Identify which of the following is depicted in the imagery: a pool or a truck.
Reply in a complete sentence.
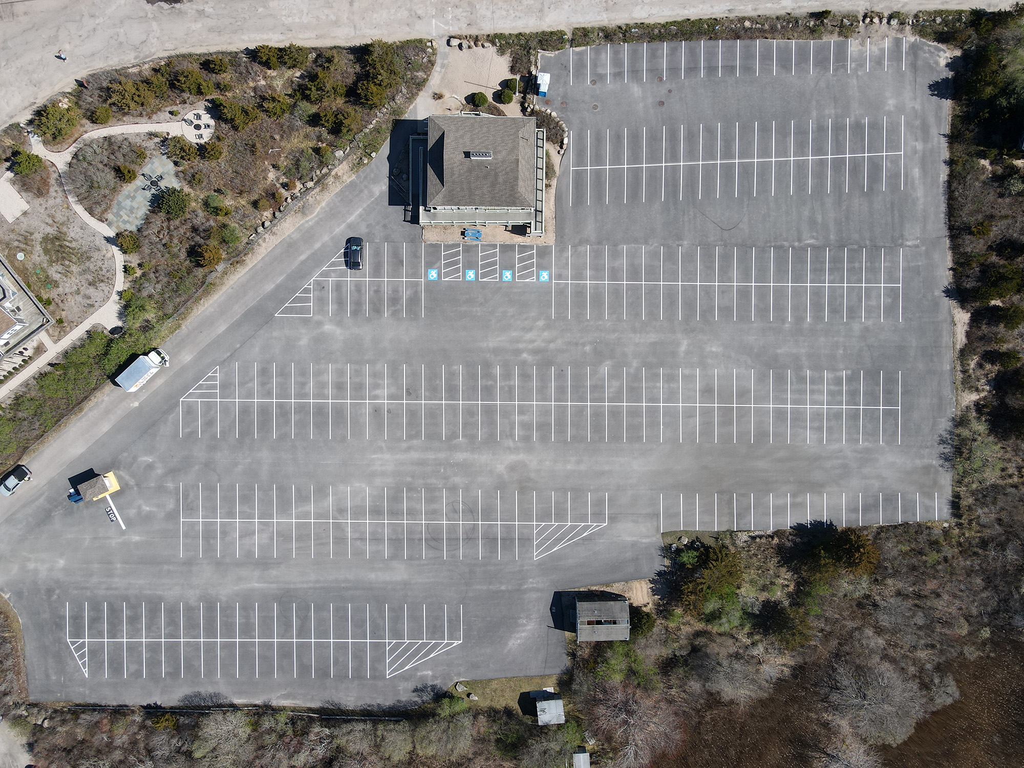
Visible in the photo is a truck.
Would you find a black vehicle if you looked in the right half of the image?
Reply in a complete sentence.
No, I can find no black vehicle in the right half of the image.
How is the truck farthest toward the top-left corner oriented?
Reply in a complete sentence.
The truck farthest toward the top-left corner is oriented at an angle.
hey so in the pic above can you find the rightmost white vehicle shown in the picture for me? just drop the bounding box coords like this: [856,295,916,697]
[115,348,172,392]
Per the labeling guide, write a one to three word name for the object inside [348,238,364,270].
car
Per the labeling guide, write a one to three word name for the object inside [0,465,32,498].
truck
